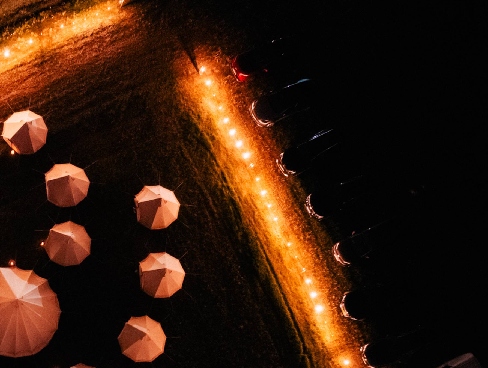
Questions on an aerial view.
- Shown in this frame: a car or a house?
car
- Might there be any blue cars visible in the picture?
No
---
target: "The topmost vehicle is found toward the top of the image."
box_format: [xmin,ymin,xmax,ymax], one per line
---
[228,38,292,84]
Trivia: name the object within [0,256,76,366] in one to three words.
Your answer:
tent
